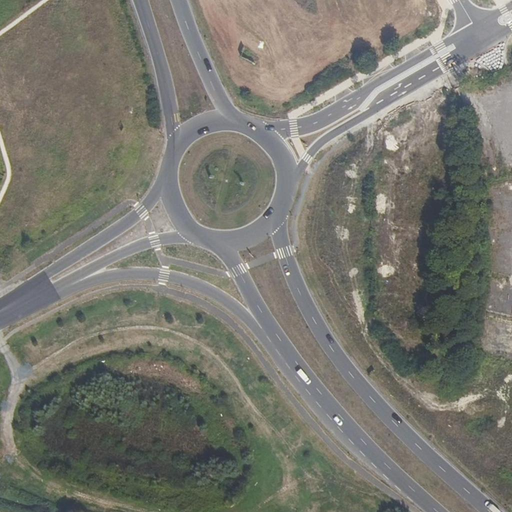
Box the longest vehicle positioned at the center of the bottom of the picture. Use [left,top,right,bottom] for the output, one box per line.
[296,368,310,384]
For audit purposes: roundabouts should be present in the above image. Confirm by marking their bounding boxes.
[144,108,303,256]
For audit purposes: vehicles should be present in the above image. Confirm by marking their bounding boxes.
[247,122,258,130]
[392,414,402,424]
[326,333,334,344]
[204,58,212,70]
[264,207,272,217]
[198,128,210,134]
[296,368,310,384]
[334,416,343,426]
[264,125,275,130]
[486,503,500,512]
